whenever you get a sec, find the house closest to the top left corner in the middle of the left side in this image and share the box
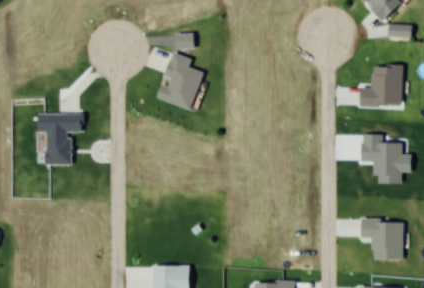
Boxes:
[38,112,83,164]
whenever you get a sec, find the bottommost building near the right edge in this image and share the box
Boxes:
[362,218,404,260]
